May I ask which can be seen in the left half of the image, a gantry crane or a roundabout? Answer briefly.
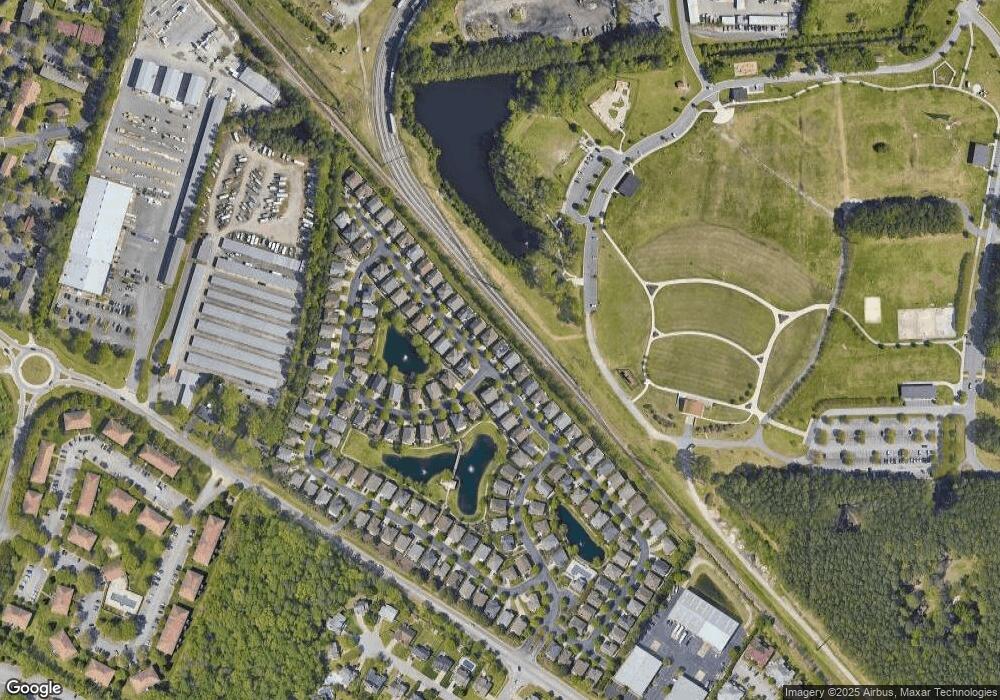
roundabout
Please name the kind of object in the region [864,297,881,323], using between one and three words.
sports court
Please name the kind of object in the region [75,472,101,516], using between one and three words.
building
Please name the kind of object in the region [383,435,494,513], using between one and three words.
pond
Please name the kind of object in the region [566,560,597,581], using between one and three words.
swimming pool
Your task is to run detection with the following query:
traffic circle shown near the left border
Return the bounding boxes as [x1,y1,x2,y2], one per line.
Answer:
[9,343,66,399]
